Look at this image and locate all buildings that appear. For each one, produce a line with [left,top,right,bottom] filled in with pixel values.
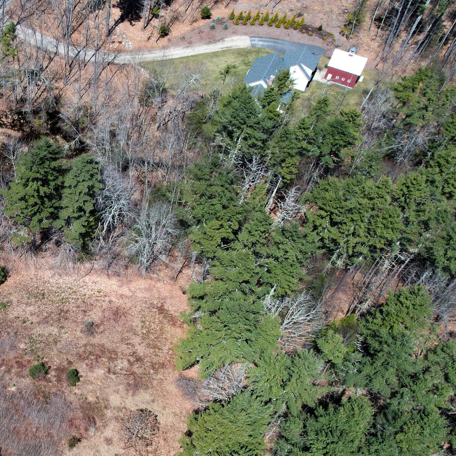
[241,45,320,115]
[323,47,368,90]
